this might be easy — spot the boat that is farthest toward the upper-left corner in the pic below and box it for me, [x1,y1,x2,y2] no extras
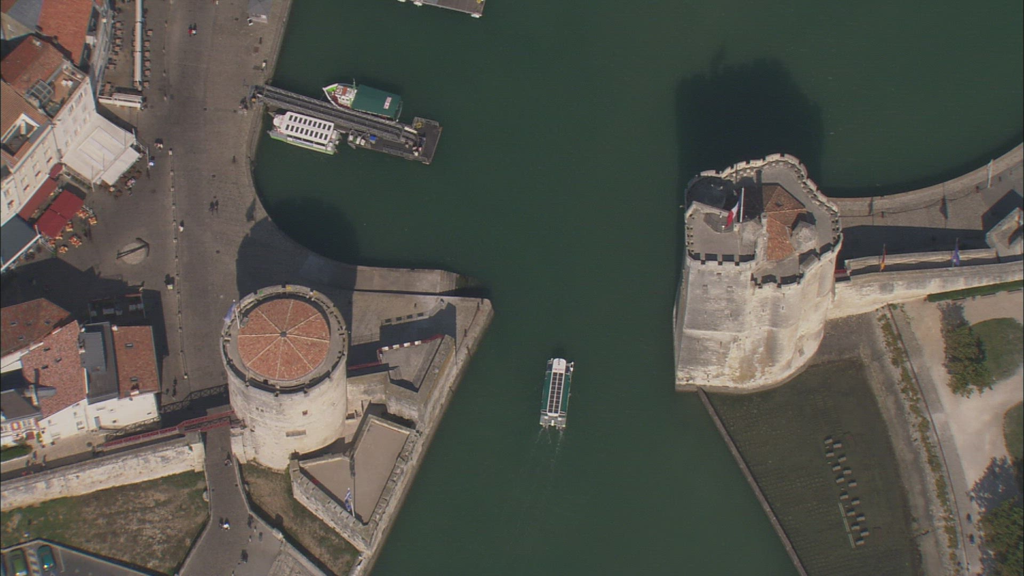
[267,115,342,159]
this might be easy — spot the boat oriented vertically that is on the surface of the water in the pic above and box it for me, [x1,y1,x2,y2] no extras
[539,356,572,430]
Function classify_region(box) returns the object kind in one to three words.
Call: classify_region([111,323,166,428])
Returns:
house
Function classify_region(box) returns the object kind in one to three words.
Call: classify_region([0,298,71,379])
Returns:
house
